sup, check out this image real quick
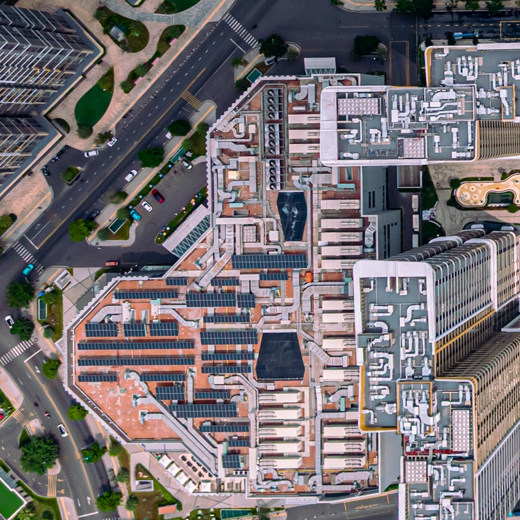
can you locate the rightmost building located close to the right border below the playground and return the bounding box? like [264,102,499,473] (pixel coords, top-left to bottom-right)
[354,220,520,520]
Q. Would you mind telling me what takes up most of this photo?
buildings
